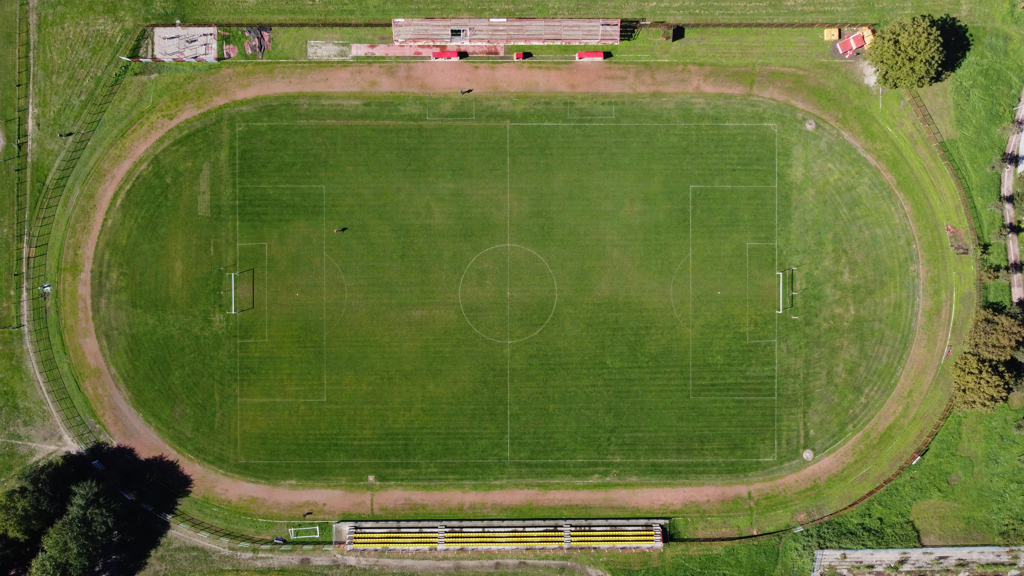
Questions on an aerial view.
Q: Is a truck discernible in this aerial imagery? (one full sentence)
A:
No, I find no truck anywhere in the image.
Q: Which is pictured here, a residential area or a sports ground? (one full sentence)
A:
The picture captures a sports ground.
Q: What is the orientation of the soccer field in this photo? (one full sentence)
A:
From this overhead view, the soccer field appears to run from left to right.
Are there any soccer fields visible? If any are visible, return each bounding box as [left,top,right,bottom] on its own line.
[92,99,918,483]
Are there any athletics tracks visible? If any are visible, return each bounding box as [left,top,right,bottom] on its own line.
[54,60,973,522]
